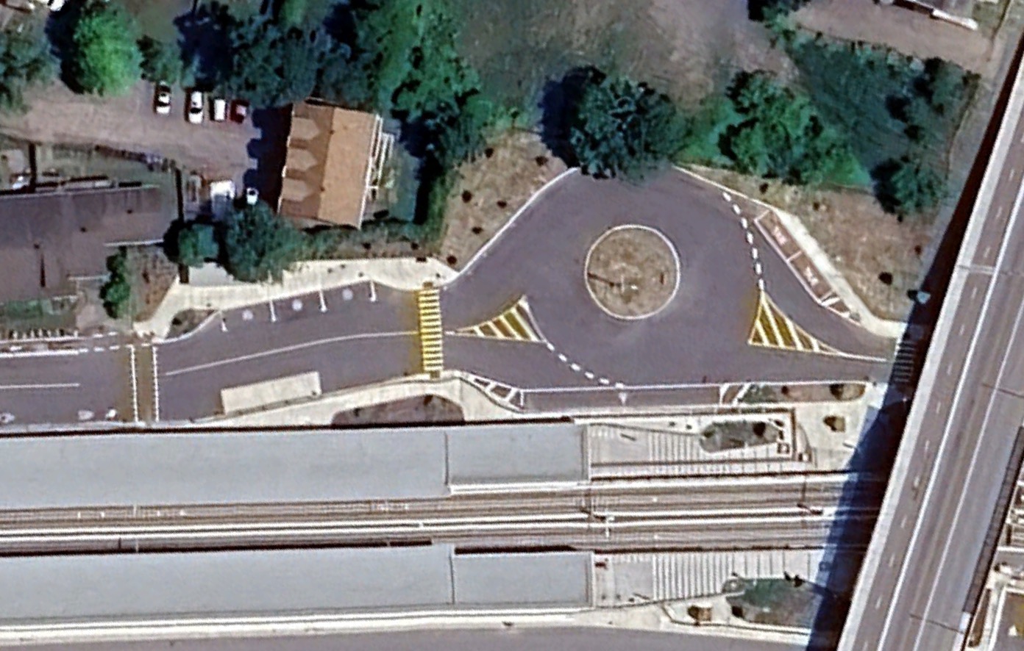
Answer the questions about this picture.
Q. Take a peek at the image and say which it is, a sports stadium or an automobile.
automobile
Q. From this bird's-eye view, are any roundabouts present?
Yes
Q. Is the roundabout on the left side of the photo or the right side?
right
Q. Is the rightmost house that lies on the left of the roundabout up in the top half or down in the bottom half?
top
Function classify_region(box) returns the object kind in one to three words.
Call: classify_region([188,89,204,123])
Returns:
car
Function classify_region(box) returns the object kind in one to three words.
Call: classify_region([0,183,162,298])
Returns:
building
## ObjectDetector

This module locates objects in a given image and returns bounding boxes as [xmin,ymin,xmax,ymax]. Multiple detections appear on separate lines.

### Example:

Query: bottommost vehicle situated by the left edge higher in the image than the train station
[8,166,27,189]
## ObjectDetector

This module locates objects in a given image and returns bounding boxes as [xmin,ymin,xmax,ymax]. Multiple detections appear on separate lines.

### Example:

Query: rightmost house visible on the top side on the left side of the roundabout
[277,102,377,229]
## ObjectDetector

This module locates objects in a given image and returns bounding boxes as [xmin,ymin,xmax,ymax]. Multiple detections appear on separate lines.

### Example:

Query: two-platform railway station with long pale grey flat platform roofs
[0,410,1024,626]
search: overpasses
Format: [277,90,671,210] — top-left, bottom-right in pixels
[838,46,1024,651]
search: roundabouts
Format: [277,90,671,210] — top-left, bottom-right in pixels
[443,152,938,409]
